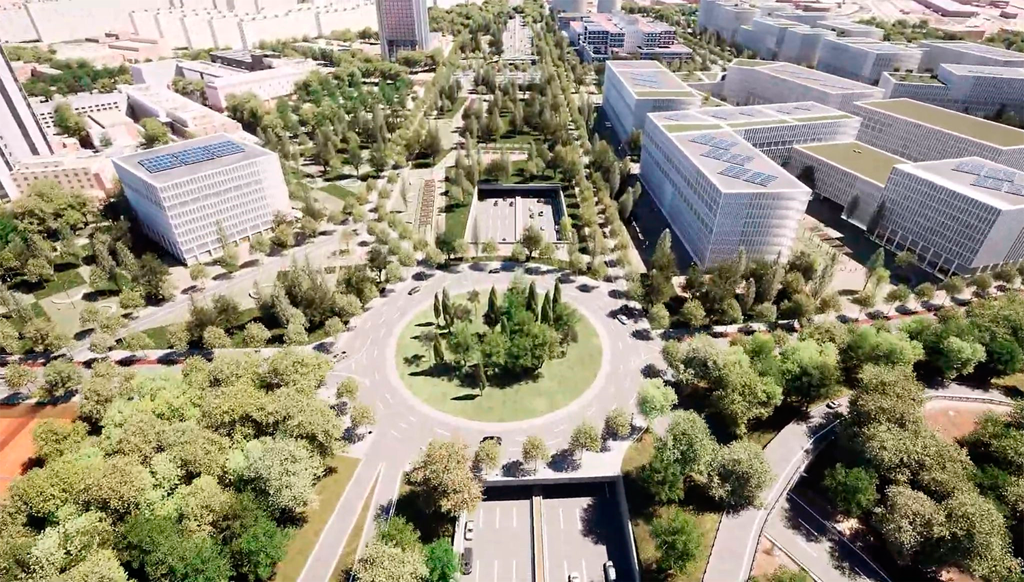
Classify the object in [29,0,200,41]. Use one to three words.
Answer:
building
